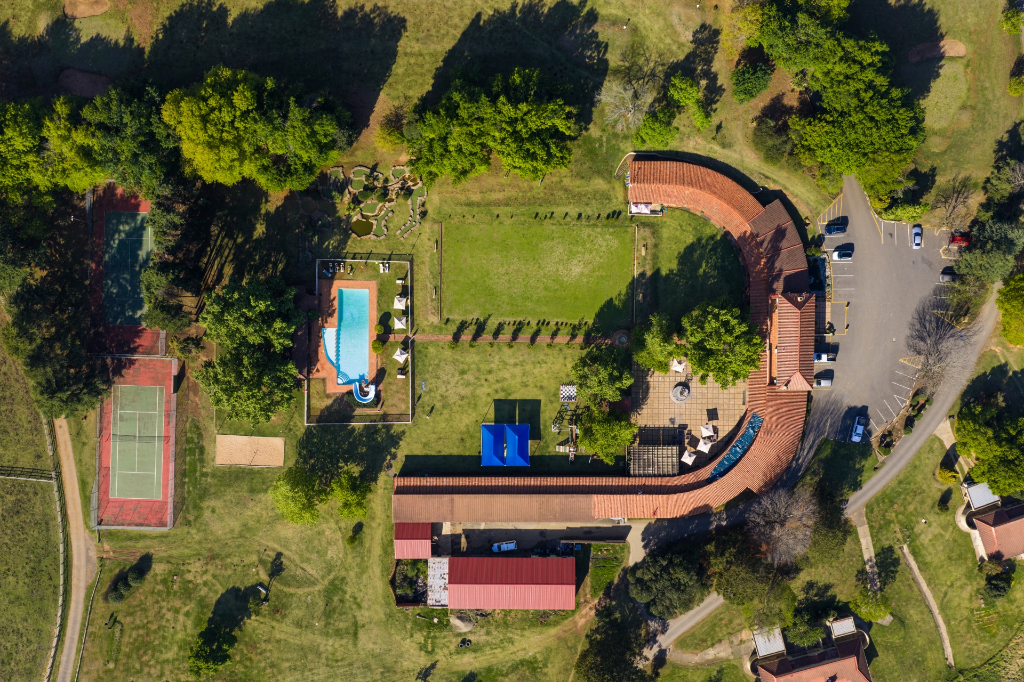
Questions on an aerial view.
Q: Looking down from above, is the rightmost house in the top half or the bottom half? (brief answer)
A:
bottom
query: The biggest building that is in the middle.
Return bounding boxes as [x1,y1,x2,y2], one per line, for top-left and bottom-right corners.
[393,161,816,522]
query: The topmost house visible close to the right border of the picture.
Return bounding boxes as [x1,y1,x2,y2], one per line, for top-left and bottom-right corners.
[948,472,1024,559]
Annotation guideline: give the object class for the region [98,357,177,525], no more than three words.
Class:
tennis court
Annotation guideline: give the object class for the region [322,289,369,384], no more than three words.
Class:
swimming pool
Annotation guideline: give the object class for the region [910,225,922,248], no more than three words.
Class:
vehicle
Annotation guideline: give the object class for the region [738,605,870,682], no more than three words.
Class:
house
